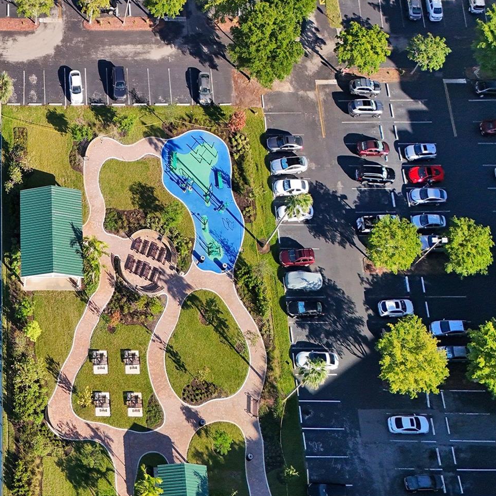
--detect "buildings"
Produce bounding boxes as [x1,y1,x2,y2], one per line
[153,463,209,496]
[20,185,84,290]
